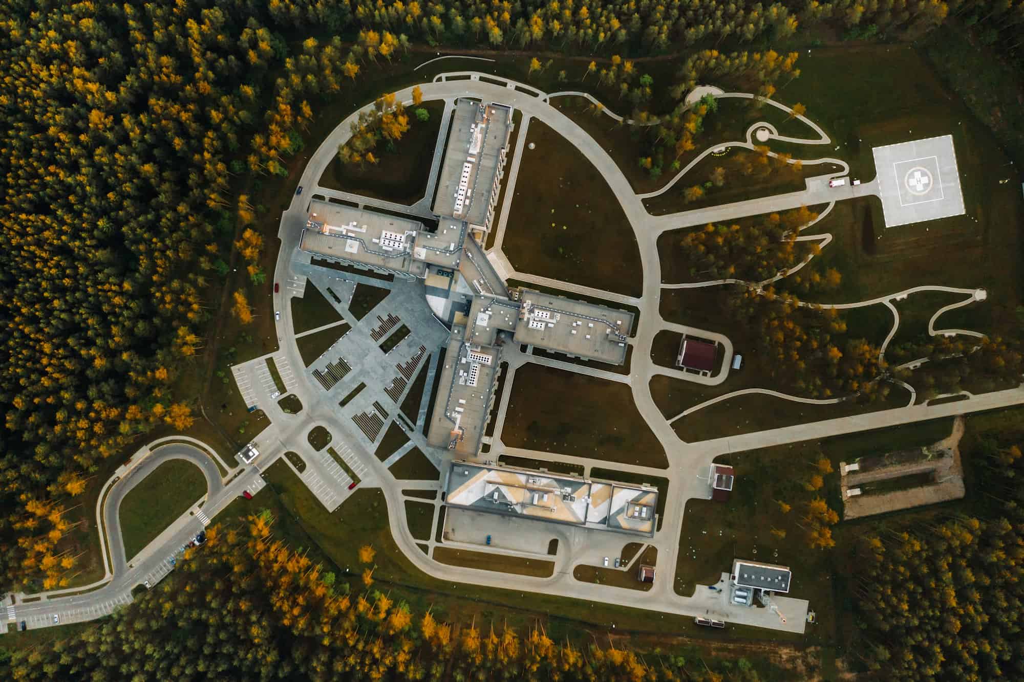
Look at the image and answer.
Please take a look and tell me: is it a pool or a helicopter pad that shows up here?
helicopter pad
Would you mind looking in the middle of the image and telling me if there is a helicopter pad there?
No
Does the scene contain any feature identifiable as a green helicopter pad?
No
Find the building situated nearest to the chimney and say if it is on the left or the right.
right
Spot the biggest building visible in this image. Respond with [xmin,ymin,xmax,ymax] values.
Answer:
[299,97,635,457]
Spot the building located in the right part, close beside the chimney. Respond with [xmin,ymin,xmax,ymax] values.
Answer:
[728,557,791,593]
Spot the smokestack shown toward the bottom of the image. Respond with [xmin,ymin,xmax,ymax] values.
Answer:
[761,593,787,624]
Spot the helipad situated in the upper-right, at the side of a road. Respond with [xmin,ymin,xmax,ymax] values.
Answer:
[873,134,965,227]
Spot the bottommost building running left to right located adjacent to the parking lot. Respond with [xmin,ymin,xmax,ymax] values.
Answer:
[445,458,658,537]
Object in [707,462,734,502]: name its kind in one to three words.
shed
